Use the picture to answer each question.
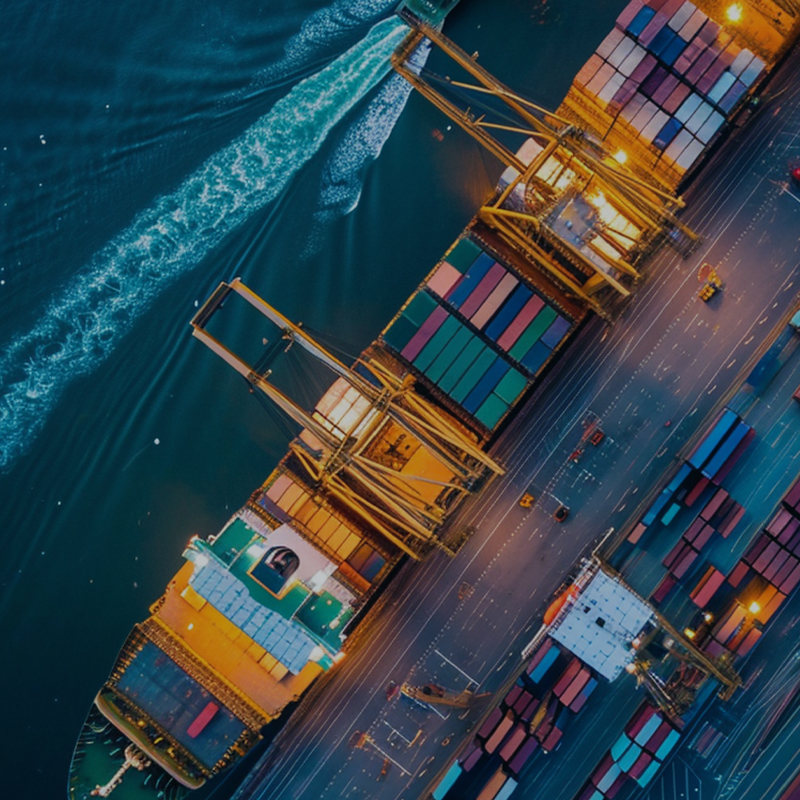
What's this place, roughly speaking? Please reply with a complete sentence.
What you see here is a port.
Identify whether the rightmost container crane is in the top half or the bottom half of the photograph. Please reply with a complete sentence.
It is in the bottom half that the rightmost container crane appears.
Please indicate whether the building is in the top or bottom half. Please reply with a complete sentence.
You can find the building in the bottom half.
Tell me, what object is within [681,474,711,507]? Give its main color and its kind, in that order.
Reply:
red shipping container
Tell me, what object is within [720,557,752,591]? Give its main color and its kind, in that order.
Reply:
red shipping container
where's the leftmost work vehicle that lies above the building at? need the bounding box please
[521,487,534,509]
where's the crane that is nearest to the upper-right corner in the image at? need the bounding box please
[388,21,696,344]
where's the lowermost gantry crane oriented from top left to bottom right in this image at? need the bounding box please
[588,543,744,735]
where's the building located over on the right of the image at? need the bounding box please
[528,523,655,683]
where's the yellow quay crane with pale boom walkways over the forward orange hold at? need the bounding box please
[188,276,511,573]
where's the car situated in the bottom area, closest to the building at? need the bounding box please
[552,504,570,526]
